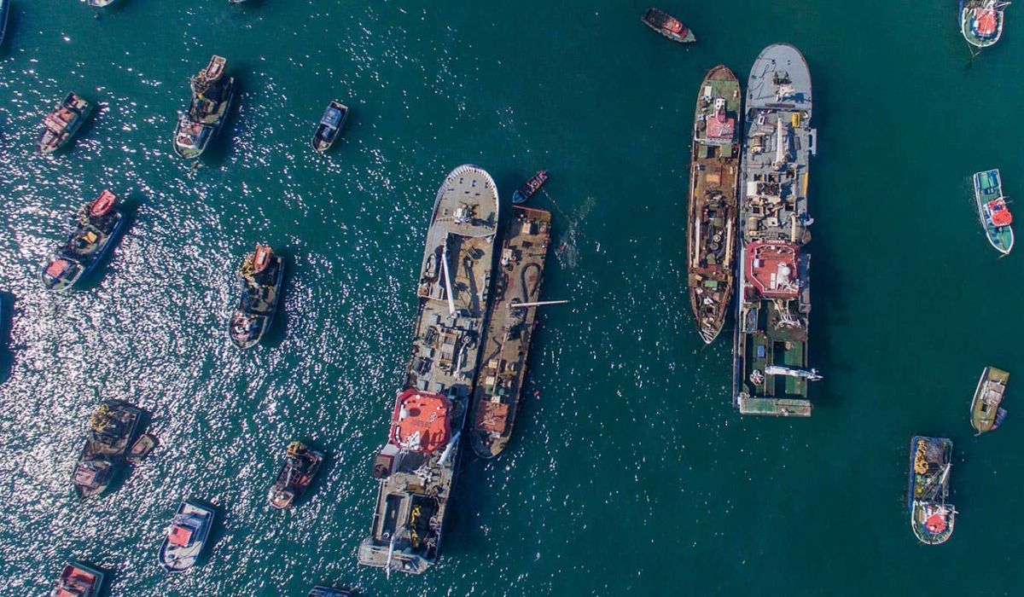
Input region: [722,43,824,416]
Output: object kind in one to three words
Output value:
ship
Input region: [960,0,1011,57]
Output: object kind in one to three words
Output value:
boat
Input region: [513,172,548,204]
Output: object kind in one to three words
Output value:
boat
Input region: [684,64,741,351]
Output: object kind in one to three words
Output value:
ship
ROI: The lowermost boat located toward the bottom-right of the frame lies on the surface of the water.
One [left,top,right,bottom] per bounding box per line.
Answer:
[907,437,959,544]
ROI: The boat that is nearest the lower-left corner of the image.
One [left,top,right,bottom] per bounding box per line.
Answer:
[47,561,104,597]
